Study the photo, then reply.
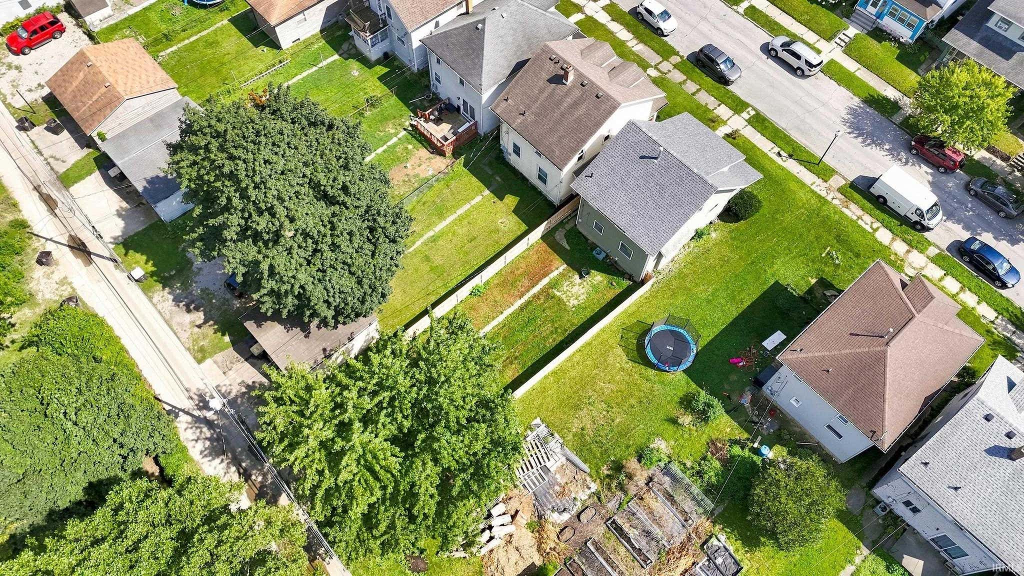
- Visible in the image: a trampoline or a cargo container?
trampoline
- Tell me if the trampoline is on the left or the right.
right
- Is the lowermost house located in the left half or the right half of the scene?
right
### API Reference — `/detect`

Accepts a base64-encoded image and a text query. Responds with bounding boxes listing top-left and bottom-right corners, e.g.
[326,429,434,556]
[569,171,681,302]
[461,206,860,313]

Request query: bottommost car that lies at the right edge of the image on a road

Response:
[960,237,1024,290]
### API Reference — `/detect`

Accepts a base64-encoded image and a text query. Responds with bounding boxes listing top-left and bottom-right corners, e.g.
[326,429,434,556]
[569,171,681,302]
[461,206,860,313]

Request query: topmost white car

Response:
[636,0,678,36]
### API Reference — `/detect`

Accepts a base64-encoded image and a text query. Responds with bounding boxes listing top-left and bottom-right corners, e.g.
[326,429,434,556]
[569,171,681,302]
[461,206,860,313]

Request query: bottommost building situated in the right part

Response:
[878,362,1024,576]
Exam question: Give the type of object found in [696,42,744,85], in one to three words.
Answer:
car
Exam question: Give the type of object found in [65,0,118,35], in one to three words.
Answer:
shed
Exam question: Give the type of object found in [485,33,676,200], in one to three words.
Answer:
house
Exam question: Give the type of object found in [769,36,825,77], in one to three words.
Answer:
car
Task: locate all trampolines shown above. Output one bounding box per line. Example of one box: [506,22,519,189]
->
[641,312,702,377]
